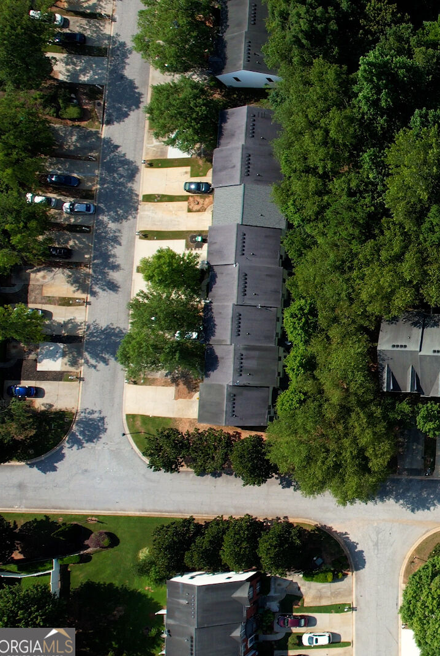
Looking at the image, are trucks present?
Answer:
No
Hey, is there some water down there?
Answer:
No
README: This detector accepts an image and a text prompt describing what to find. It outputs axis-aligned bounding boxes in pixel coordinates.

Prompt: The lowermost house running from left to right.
[164,614,260,656]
